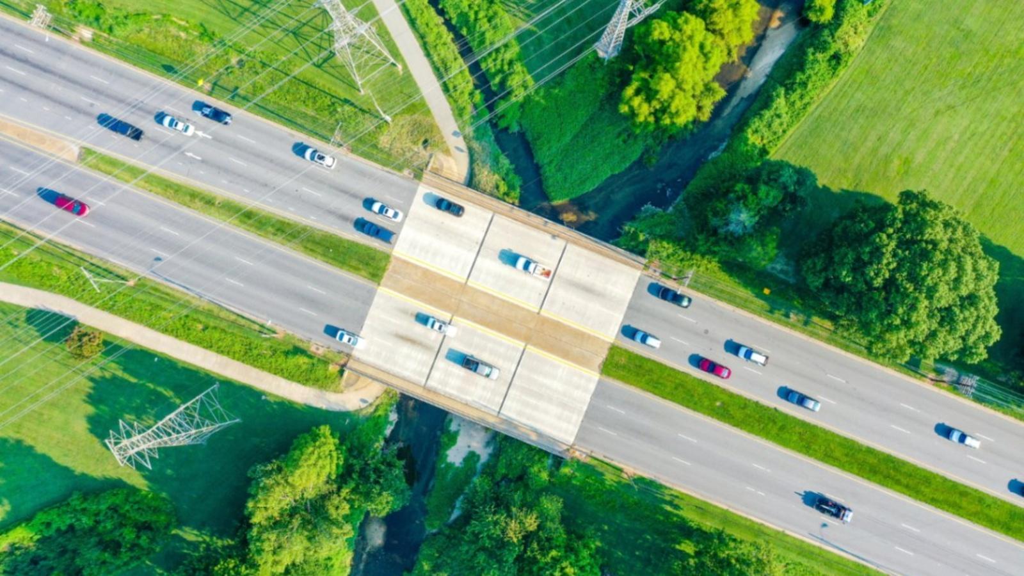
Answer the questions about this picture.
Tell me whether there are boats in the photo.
No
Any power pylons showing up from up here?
Yes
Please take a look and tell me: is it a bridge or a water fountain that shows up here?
bridge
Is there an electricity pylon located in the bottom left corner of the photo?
Yes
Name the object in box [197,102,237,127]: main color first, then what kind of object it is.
blue truck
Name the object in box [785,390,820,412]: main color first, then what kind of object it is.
blue car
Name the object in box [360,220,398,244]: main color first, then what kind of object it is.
blue truck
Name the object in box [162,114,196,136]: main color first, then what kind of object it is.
white car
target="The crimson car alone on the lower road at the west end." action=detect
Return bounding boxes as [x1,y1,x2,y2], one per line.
[54,194,89,216]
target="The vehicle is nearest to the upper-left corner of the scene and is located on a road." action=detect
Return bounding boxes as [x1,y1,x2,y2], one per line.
[110,118,150,143]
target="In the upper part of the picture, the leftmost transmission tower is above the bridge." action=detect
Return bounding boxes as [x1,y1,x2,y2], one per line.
[314,0,404,97]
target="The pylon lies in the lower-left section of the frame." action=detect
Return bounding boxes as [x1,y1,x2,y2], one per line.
[104,381,242,468]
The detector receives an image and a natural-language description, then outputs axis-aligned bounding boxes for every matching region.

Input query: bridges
[335,164,659,461]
